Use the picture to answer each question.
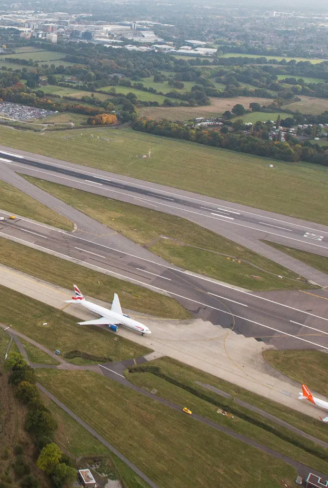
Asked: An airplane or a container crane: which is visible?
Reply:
airplane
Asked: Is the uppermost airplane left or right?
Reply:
left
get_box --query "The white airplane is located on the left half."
[60,280,144,328]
